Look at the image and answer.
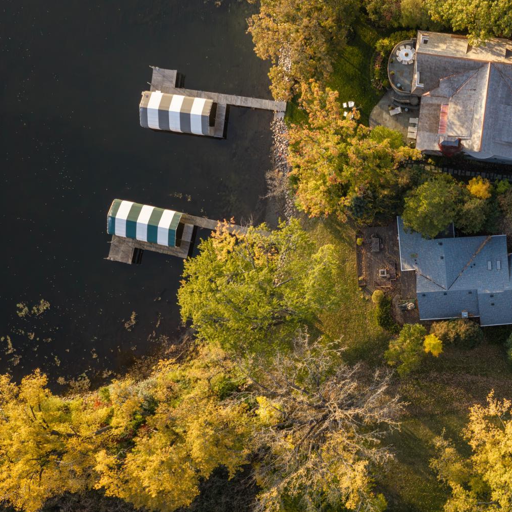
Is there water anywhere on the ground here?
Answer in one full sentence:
Yes, water can be seen from above here.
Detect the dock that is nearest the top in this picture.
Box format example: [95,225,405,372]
[146,65,280,139]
